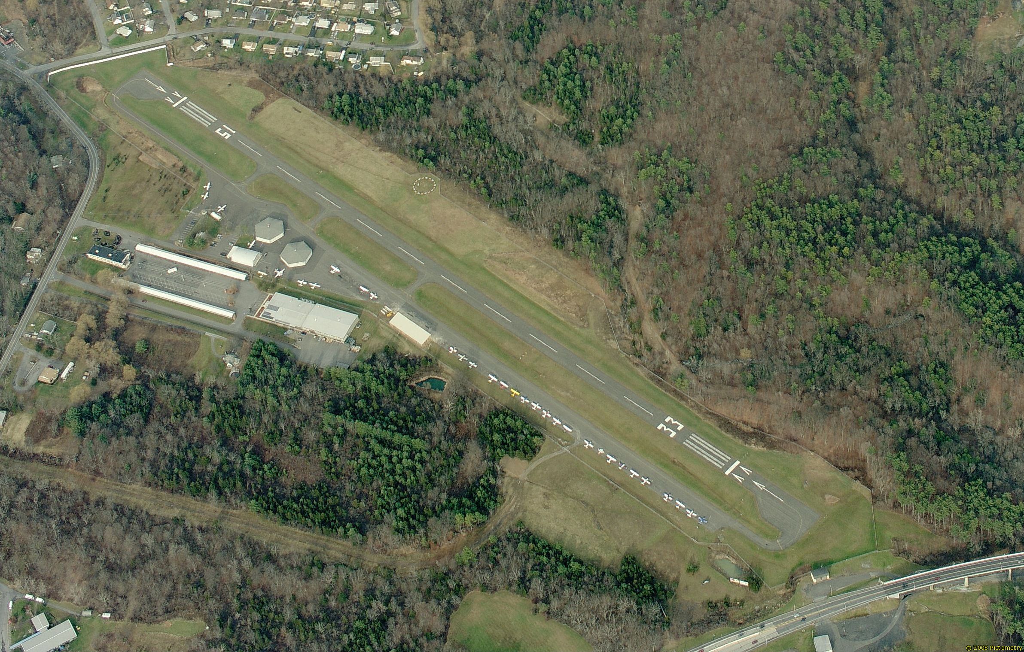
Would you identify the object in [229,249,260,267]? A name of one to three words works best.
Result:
hangar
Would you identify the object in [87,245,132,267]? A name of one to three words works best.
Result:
building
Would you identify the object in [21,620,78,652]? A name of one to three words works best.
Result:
building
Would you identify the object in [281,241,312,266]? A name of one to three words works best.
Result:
hangar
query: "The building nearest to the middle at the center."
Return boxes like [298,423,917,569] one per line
[389,312,431,347]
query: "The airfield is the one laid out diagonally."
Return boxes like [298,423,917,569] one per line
[110,68,822,550]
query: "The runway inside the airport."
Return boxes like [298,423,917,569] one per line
[136,68,822,525]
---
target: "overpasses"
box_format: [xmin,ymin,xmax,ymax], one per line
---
[881,552,1024,599]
